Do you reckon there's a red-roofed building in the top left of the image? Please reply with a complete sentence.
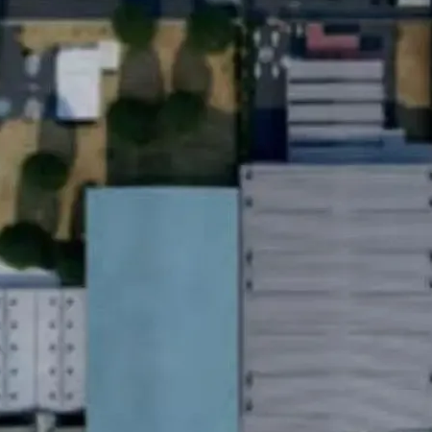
No, the scene shows no red-roofed building in the top left of the image.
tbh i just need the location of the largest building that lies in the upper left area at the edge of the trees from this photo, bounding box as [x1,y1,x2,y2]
[56,48,101,123]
